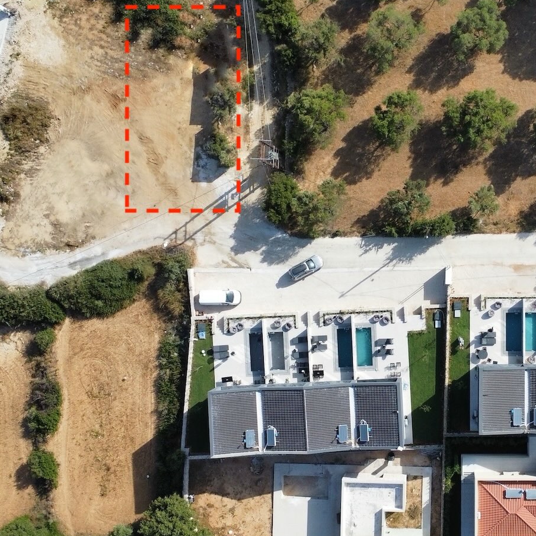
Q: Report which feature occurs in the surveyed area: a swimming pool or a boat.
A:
swimming pool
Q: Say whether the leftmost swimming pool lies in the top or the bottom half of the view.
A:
bottom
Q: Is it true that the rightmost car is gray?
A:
Yes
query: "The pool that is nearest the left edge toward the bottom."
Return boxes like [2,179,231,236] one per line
[243,326,267,377]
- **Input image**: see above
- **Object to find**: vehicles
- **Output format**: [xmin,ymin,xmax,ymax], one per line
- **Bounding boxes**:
[285,255,323,282]
[199,288,241,307]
